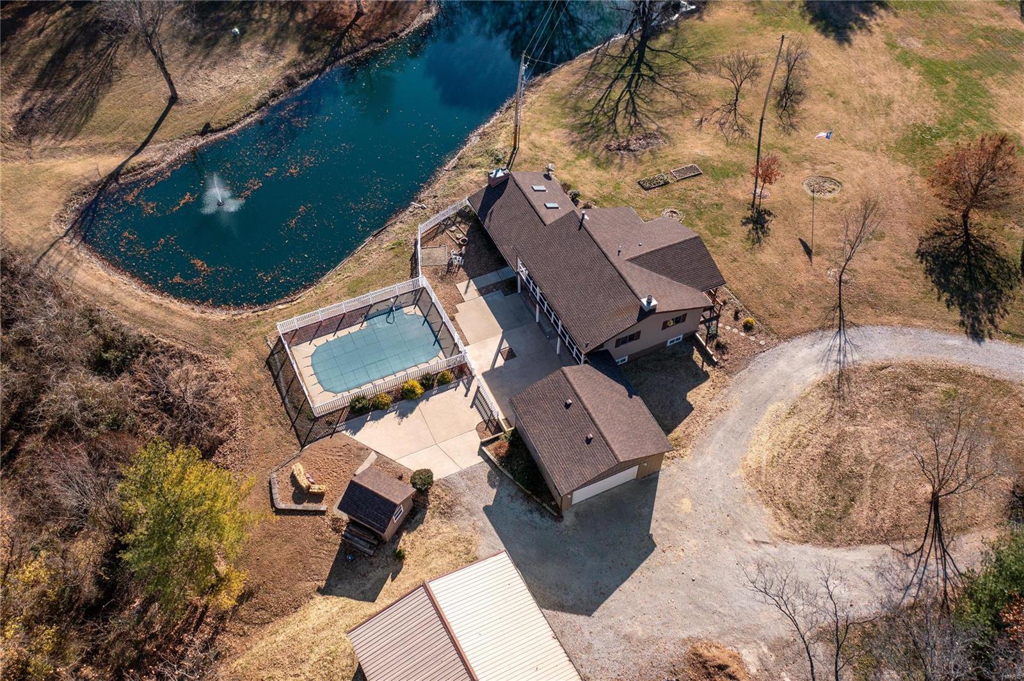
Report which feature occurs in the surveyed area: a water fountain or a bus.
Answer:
water fountain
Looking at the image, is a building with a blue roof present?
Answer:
No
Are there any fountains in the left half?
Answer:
Yes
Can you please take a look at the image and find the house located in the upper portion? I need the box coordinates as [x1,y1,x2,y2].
[466,162,732,365]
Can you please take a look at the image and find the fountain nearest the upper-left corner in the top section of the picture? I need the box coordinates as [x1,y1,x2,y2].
[183,171,249,224]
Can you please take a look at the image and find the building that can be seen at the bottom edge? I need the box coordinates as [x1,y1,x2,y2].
[346,550,581,681]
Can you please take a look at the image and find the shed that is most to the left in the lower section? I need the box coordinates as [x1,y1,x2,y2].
[336,466,416,540]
